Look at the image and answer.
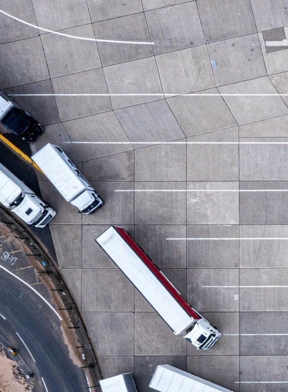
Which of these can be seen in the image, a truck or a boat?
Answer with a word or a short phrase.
truck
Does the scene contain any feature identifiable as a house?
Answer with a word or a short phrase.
No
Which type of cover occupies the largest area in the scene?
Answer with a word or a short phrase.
paved ground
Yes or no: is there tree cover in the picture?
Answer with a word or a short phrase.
No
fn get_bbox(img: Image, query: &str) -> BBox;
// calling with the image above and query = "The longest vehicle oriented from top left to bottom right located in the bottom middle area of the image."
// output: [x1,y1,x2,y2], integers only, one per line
[96,227,222,351]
